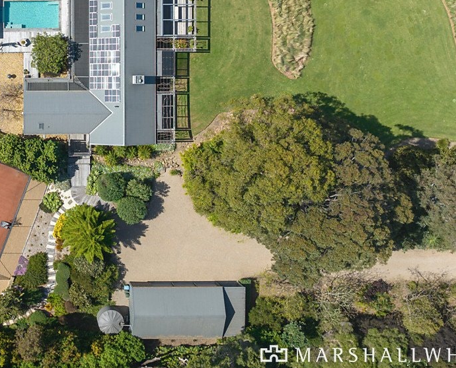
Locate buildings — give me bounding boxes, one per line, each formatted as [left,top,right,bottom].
[129,281,246,339]
[24,0,157,157]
